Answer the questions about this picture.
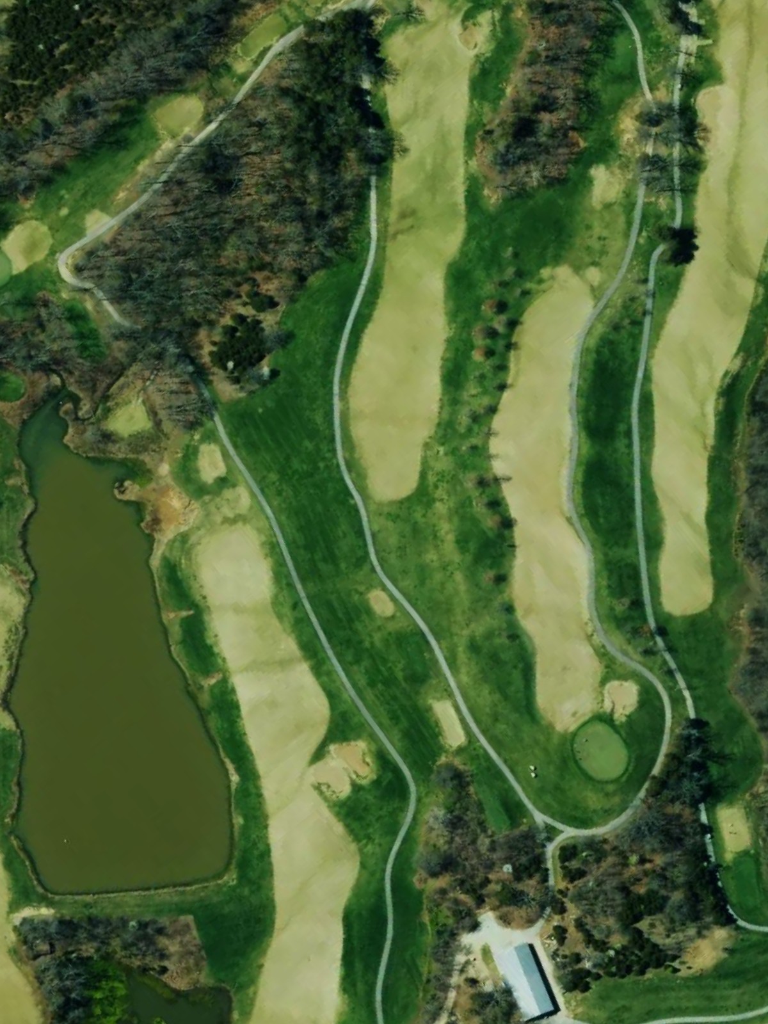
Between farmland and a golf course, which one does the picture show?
golf course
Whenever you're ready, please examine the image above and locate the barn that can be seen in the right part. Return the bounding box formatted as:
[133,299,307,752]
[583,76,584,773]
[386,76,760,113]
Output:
[501,946,555,1022]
